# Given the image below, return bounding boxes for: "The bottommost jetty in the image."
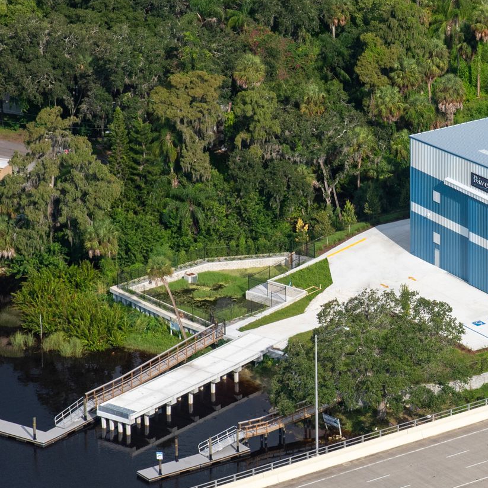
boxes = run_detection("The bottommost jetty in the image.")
[137,442,251,486]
